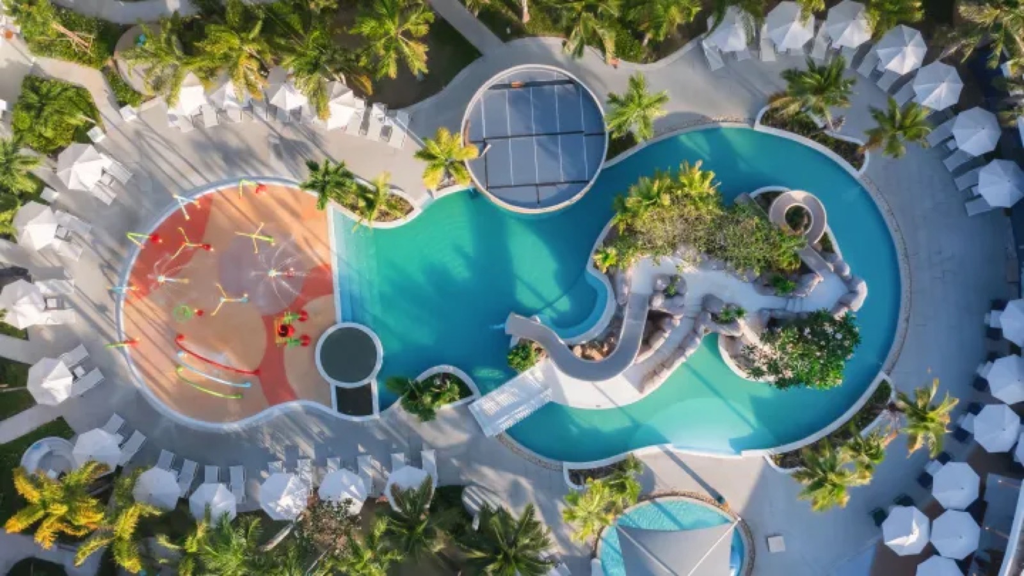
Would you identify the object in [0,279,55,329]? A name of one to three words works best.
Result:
umbrella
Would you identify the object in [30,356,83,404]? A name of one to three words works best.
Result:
umbrella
